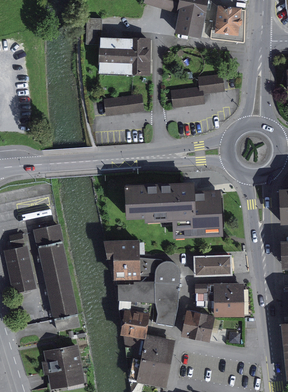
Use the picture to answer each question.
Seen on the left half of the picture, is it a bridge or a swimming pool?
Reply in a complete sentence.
It is a bridge that can be seen on the left half of the picture.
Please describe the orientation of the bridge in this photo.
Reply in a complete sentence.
The bridge runs from side to side in the image.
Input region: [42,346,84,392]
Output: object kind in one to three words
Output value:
house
